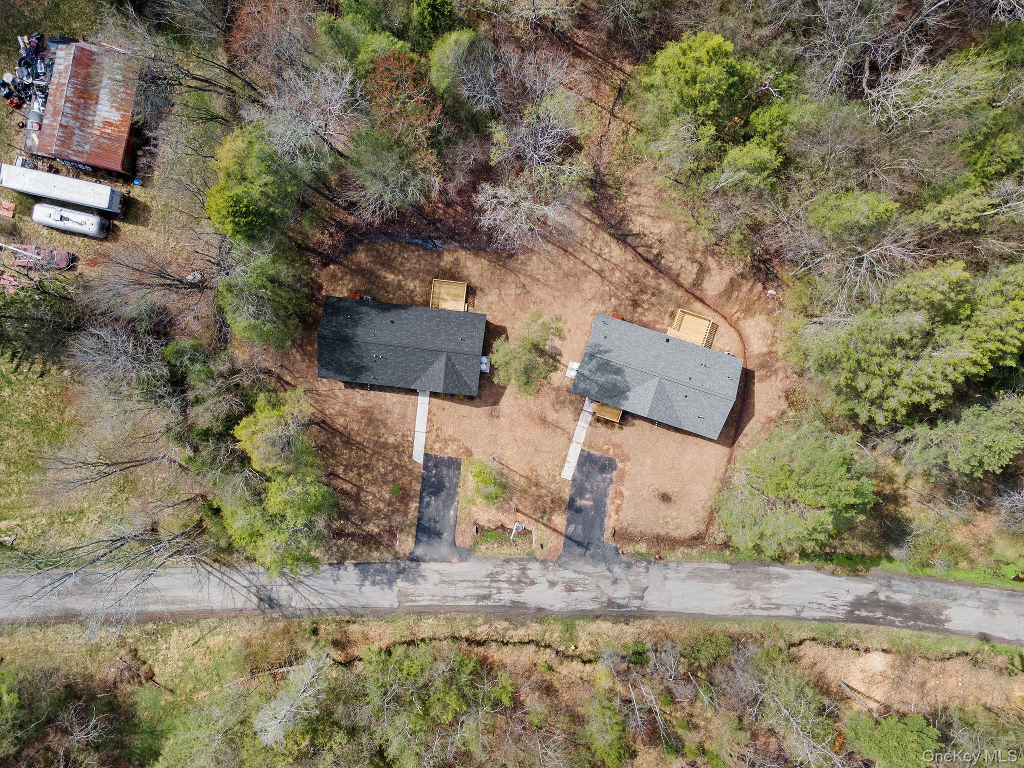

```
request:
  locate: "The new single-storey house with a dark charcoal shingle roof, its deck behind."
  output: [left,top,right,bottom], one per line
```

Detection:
[317,293,487,396]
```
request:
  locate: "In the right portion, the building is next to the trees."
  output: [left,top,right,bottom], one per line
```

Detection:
[572,313,743,440]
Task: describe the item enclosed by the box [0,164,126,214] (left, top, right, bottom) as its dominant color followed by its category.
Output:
white trailer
